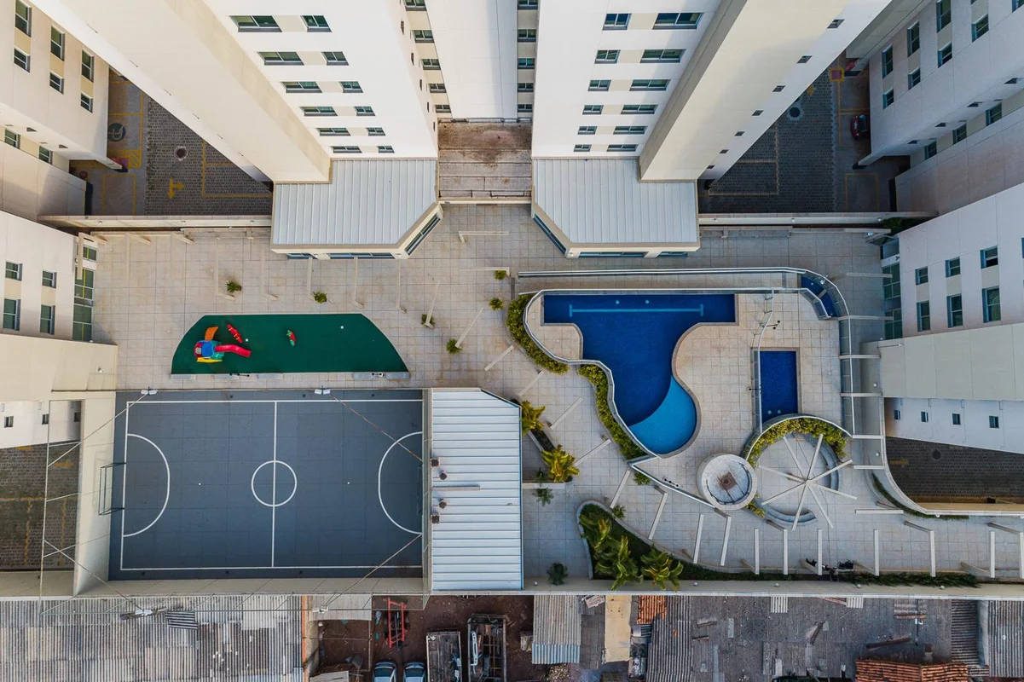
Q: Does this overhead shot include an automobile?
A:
Yes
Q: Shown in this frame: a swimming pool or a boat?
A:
swimming pool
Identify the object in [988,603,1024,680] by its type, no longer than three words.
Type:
shed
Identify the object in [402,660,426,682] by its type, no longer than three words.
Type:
car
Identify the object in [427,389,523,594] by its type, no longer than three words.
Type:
building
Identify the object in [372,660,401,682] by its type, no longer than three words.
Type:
car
